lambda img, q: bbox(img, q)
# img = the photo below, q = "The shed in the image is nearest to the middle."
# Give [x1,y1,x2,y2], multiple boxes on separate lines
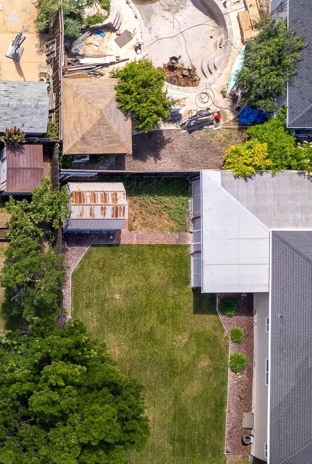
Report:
[61,183,127,231]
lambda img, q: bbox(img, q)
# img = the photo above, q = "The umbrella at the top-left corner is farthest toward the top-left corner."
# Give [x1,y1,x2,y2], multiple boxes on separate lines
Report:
[6,36,26,60]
